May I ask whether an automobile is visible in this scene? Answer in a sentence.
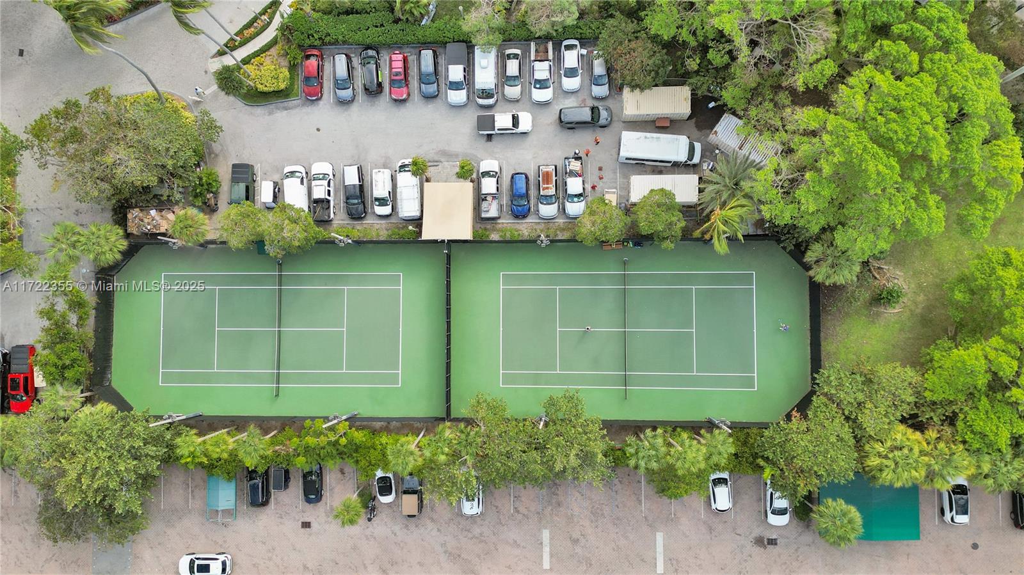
Yes, the image includes an automobile.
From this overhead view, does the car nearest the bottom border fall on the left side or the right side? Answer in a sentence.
The car nearest the bottom border is on the left side of the image.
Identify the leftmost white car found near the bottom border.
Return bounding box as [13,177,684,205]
[181,551,234,575]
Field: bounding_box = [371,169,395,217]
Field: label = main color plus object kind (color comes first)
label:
white vehicle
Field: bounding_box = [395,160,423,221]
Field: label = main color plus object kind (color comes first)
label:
white van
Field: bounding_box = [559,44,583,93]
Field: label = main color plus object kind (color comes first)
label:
white car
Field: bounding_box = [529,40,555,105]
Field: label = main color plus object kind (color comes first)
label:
white truck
